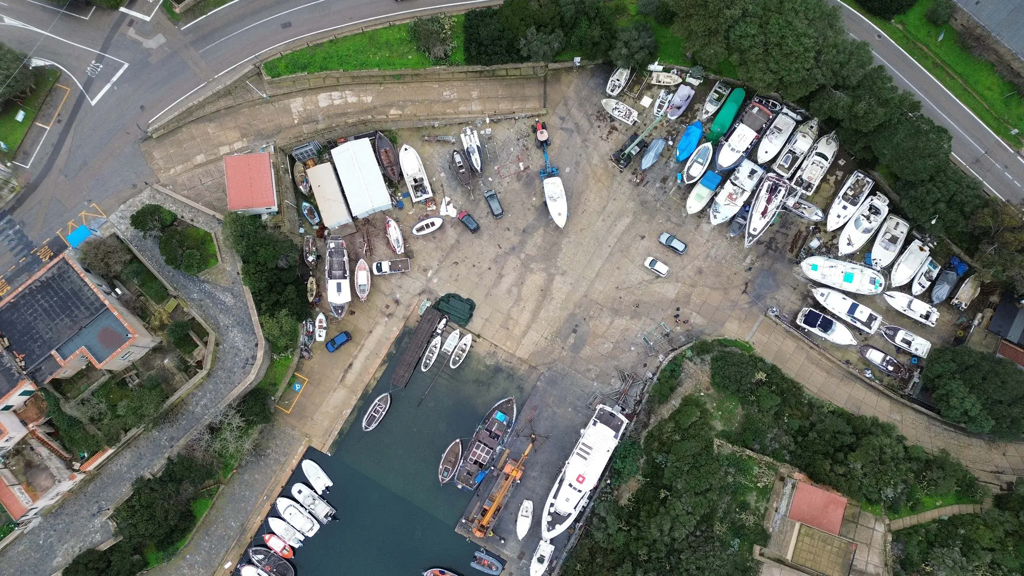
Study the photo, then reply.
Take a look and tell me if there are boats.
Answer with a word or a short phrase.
Yes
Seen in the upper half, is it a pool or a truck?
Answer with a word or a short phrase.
truck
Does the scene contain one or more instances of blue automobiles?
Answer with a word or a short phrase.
Yes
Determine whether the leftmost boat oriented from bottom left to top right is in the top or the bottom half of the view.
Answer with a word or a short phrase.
bottom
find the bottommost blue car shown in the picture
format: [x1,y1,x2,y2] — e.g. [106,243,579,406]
[325,330,354,354]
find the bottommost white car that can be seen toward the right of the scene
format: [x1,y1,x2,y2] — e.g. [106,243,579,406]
[642,255,672,280]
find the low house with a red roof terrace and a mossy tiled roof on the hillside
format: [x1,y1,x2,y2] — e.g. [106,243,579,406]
[763,475,858,576]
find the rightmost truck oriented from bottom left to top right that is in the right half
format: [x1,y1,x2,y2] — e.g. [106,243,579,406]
[607,106,674,177]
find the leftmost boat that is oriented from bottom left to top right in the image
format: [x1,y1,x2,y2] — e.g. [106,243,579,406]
[363,393,389,432]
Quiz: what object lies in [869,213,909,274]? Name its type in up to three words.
boat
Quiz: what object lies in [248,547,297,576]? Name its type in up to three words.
boat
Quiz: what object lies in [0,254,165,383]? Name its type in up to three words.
house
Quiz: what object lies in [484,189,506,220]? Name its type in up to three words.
car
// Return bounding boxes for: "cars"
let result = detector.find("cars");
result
[325,330,354,354]
[484,189,506,220]
[642,255,672,280]
[657,231,690,257]
[456,209,482,235]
